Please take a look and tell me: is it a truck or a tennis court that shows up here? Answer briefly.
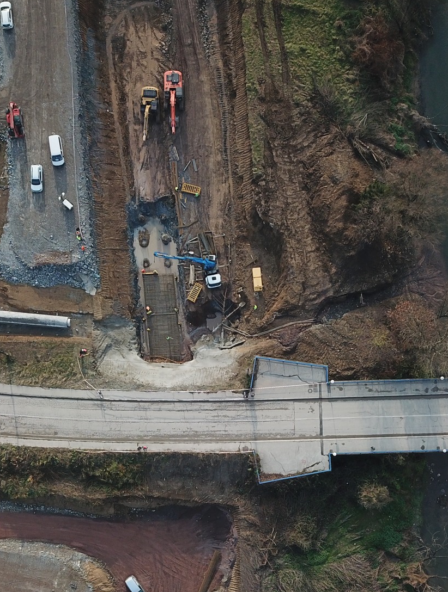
truck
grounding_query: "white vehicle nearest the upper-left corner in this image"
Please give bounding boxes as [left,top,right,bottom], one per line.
[0,2,15,32]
